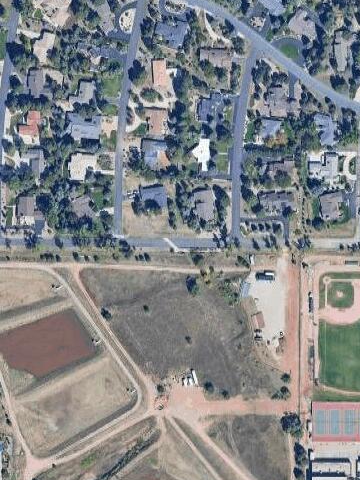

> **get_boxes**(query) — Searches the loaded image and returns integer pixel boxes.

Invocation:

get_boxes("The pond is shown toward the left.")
[0,309,93,378]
